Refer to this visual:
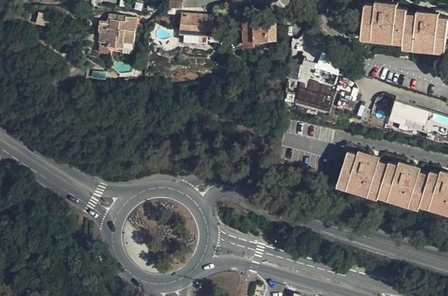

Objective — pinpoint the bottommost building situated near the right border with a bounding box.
[336,150,448,218]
